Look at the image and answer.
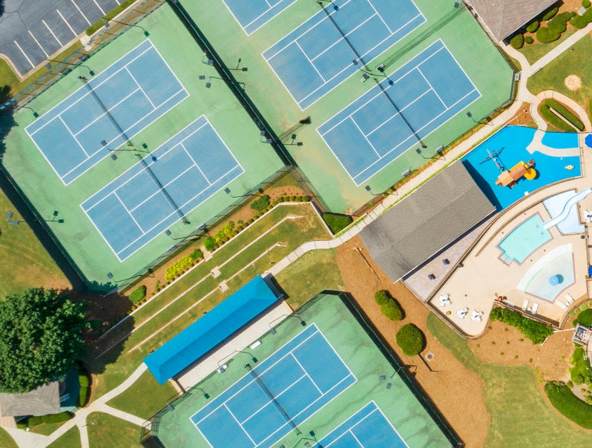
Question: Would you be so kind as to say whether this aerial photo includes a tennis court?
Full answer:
Yes, a tennis court is visible in the scene.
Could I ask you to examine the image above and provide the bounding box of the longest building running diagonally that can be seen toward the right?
[359,159,496,283]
